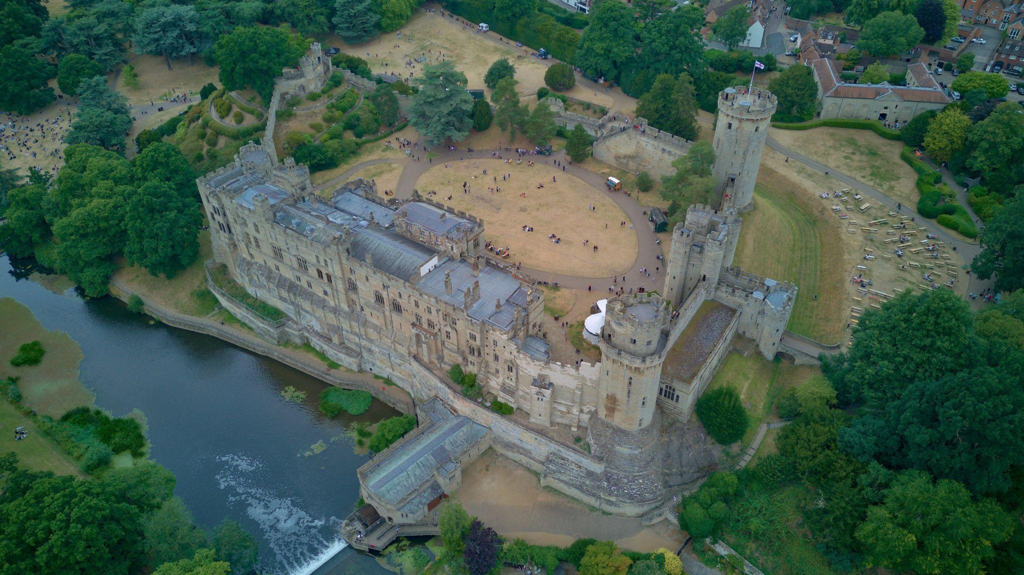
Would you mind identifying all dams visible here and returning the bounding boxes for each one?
[285,532,345,575]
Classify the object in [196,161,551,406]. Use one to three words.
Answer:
building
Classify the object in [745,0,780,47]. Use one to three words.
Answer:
house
